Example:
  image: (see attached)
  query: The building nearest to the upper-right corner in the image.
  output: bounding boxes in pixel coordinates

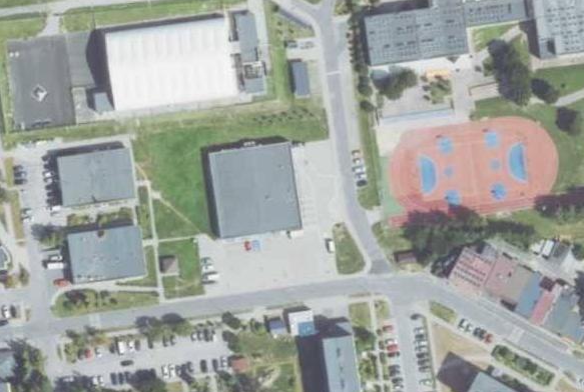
[533,0,584,61]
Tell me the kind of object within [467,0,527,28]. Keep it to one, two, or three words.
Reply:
building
